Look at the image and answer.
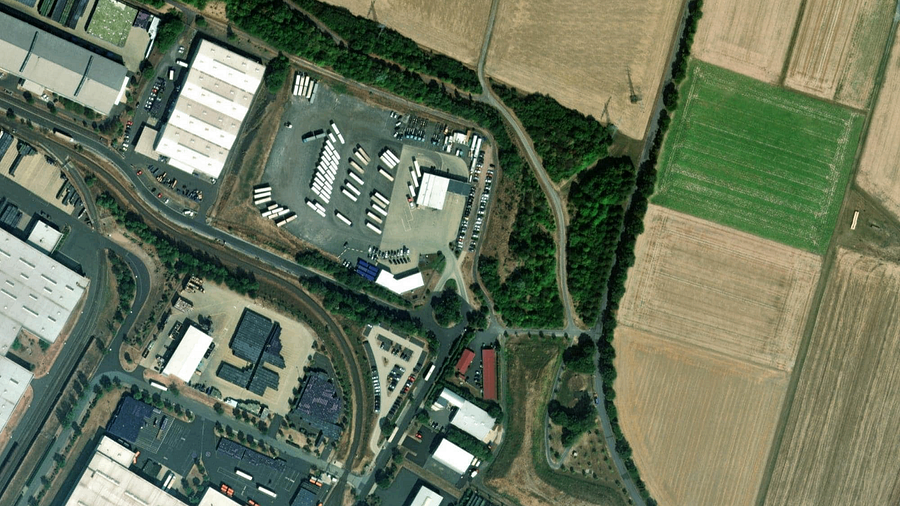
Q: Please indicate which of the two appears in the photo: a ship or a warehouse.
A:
warehouse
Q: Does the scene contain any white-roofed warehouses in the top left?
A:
Yes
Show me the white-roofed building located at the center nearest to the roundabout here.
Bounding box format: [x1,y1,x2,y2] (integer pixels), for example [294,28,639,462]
[375,270,424,295]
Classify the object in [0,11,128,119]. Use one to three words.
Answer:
building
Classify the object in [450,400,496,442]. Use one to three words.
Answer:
building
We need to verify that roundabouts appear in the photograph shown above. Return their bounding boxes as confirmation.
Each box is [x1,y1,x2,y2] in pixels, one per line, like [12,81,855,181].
[422,286,472,334]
